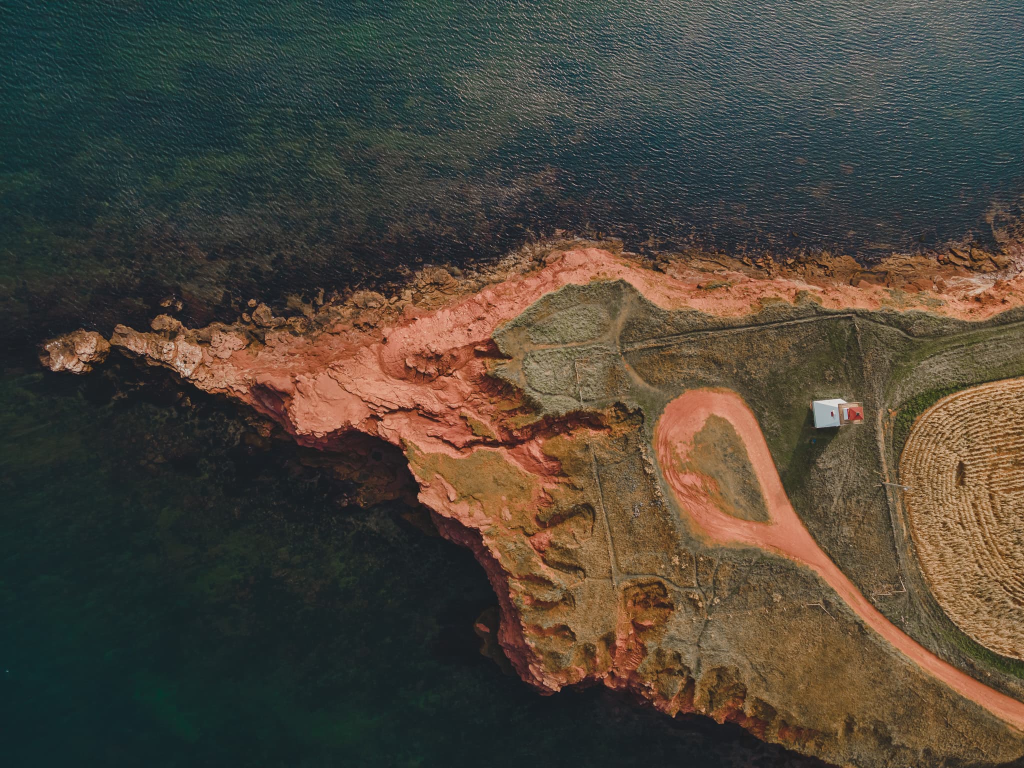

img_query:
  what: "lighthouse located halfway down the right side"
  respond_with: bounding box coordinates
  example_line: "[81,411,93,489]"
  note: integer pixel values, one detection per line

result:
[812,398,866,429]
